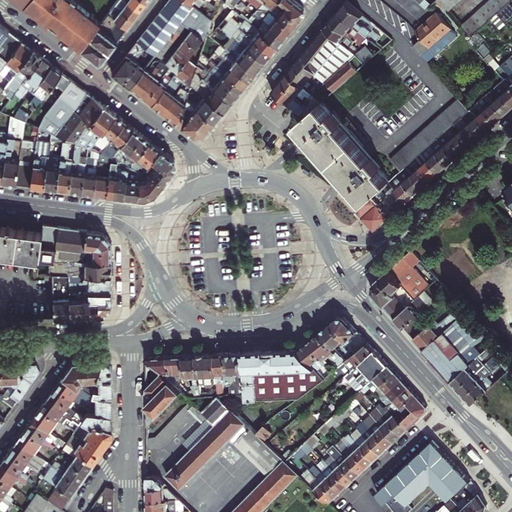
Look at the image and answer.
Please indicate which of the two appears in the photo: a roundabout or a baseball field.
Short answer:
roundabout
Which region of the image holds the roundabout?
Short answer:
center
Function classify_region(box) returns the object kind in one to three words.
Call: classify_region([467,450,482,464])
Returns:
vehicle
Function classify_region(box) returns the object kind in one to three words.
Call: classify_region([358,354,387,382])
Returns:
building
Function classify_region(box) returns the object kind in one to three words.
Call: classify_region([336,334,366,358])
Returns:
shed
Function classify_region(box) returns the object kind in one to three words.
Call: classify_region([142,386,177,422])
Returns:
house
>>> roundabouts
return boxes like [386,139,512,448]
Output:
[104,148,369,348]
